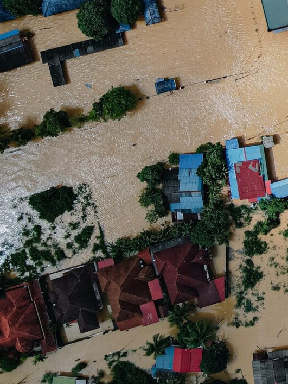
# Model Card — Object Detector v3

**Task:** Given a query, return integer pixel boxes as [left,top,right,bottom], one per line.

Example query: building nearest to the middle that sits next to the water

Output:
[163,153,206,222]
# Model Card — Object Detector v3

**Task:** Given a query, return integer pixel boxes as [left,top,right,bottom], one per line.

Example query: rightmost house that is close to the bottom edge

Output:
[252,346,288,384]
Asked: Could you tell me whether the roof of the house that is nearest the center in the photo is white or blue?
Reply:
blue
